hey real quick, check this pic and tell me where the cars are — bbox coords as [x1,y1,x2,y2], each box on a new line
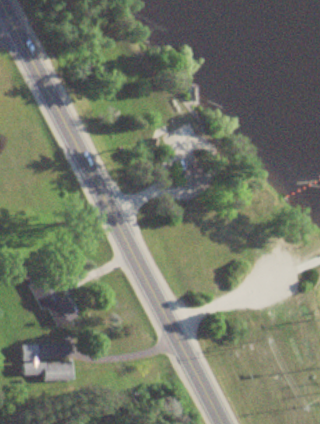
[180,157,186,167]
[86,154,94,164]
[27,40,35,52]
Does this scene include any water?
Yes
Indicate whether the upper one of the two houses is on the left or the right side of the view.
left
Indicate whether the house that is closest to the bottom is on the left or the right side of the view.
left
